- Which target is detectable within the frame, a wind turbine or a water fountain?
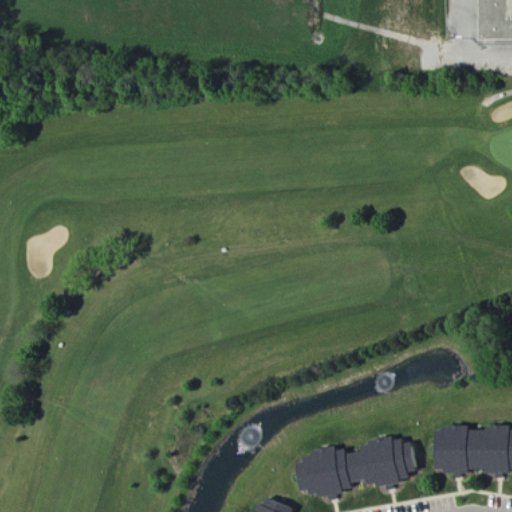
water fountain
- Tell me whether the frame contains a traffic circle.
No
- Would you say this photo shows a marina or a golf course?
golf course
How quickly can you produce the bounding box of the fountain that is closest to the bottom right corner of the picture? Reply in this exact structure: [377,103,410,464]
[376,372,396,391]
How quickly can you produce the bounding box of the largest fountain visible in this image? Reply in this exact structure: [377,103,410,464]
[238,424,262,454]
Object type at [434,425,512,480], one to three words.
house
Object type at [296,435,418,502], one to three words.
house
